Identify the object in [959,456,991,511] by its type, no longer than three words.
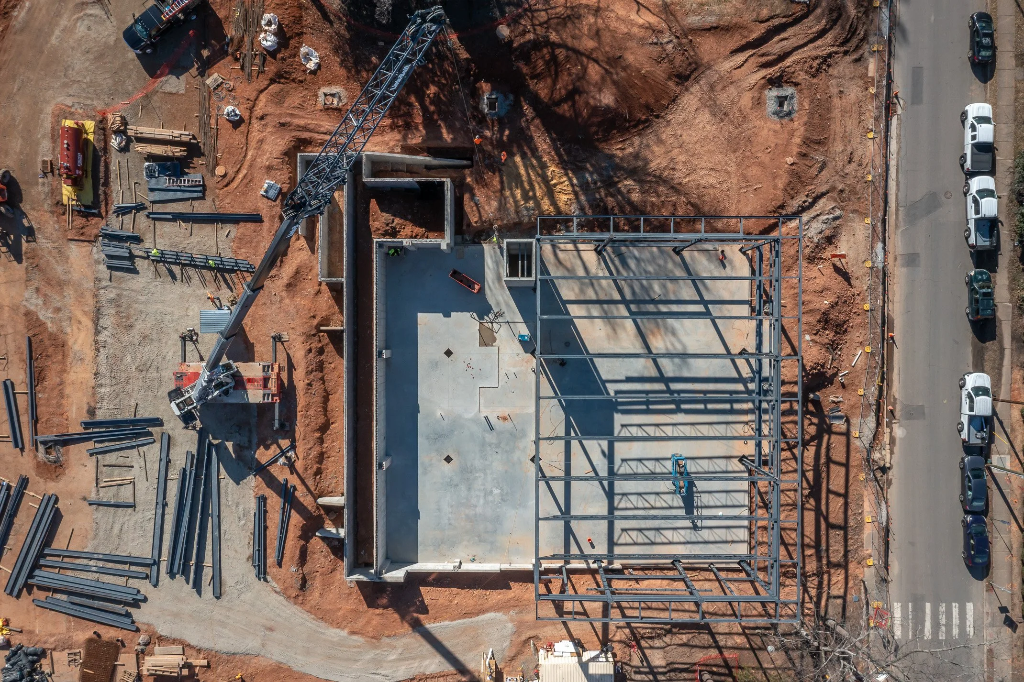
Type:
car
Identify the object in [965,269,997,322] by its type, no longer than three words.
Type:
car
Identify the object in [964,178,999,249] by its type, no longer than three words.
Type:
truck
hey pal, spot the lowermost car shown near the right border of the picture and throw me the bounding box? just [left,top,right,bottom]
[959,514,990,568]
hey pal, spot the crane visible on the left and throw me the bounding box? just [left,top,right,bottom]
[155,9,498,431]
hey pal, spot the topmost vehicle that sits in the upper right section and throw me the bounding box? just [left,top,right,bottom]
[967,11,998,64]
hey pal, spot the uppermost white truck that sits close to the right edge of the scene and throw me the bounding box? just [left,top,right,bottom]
[961,105,995,173]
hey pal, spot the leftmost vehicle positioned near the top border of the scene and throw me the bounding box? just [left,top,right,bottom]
[124,0,216,55]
